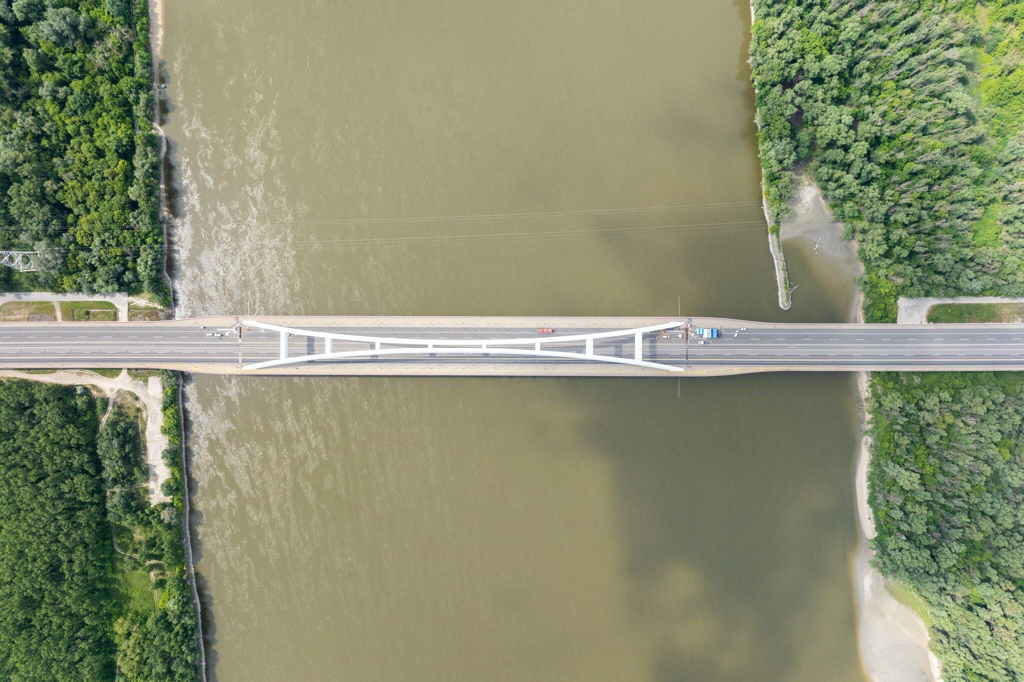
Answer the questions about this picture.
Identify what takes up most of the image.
water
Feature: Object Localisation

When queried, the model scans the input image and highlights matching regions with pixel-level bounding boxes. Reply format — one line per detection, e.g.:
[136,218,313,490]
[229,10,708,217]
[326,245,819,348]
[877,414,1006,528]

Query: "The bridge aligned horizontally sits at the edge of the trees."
[0,297,1024,395]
